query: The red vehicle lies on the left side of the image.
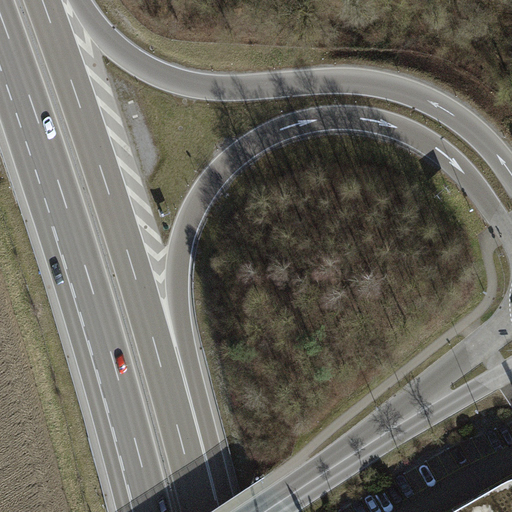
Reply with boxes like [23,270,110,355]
[115,354,128,375]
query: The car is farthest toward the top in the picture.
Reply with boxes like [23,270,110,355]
[42,116,56,140]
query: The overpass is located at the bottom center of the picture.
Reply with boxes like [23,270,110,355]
[212,454,332,512]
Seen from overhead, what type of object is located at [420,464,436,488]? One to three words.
car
